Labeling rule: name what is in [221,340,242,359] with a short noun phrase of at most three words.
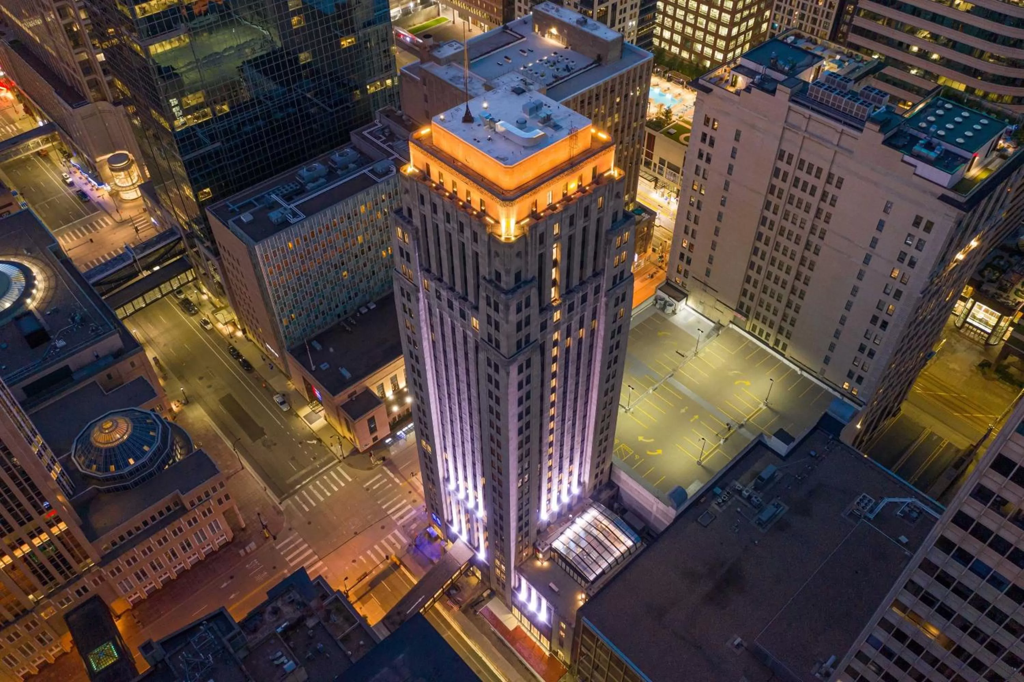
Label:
car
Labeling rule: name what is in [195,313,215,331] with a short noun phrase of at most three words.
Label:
car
